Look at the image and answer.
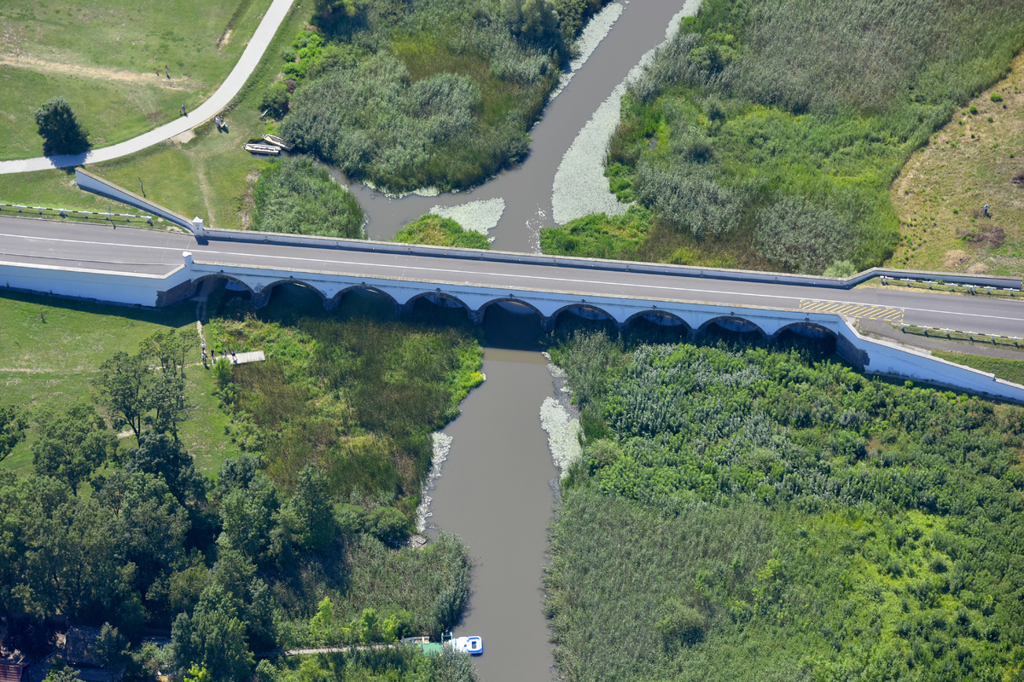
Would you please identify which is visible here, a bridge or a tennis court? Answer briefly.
bridge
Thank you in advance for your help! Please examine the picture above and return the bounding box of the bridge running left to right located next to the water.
[187,227,846,353]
